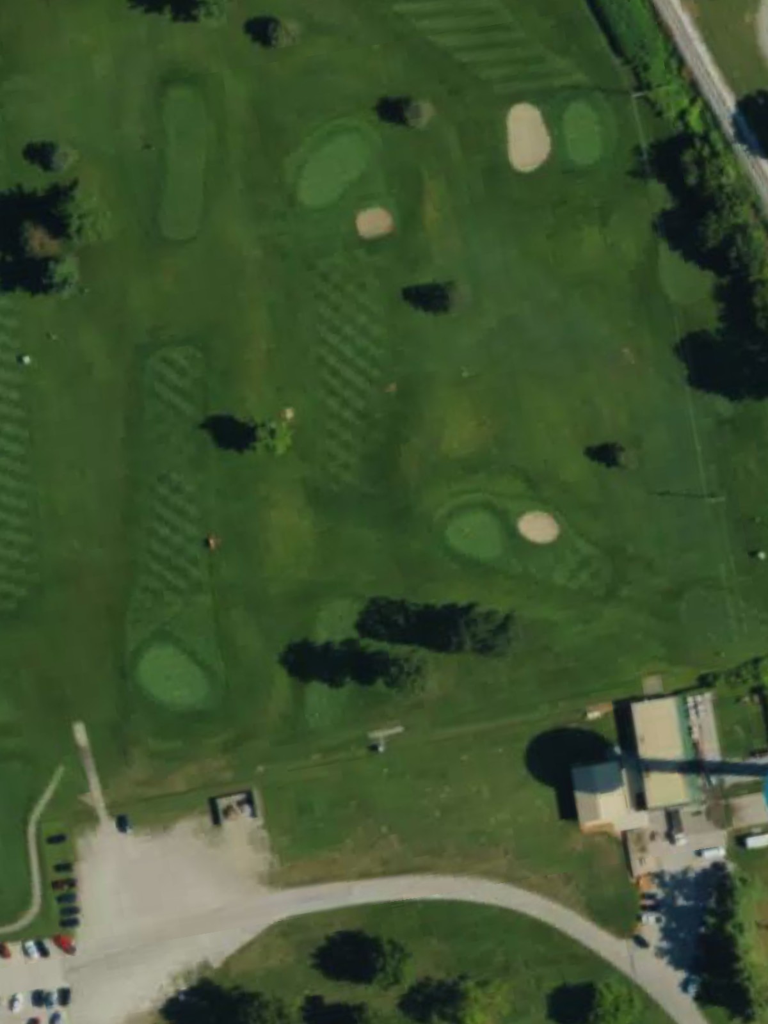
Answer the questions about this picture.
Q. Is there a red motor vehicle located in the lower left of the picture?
Yes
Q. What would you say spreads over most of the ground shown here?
grass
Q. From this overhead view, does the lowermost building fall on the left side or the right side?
right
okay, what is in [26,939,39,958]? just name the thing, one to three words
vehicle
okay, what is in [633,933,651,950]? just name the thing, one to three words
car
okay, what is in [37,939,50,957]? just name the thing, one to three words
vehicle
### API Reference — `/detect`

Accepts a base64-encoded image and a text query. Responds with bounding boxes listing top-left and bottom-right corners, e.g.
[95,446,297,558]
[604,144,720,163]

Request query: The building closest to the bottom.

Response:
[568,760,634,833]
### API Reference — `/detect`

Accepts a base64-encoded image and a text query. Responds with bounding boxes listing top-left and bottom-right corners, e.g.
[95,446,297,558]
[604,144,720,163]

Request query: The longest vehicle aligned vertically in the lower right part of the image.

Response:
[672,812,687,844]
